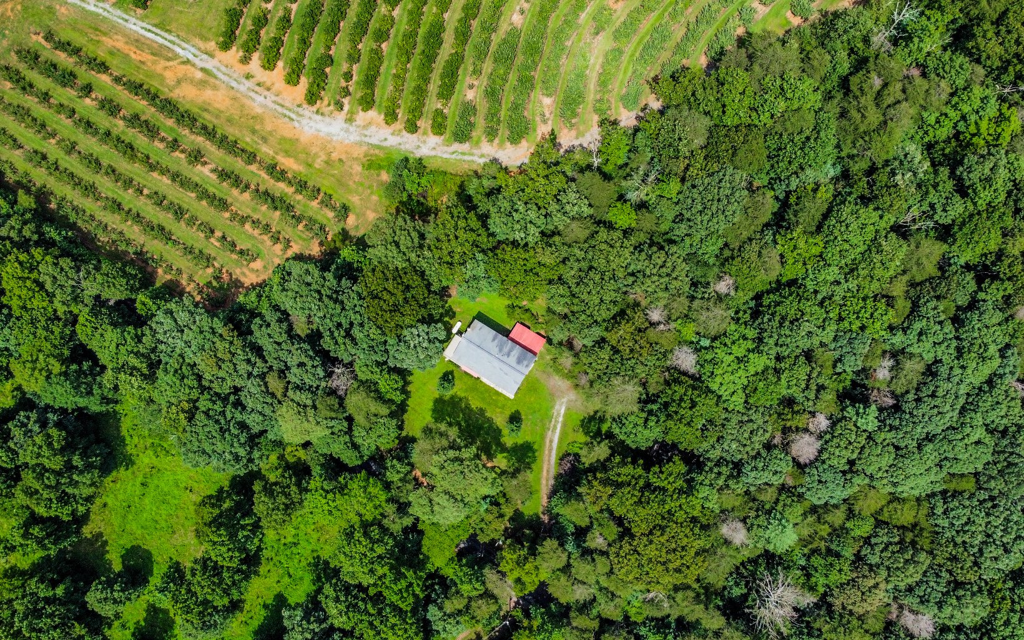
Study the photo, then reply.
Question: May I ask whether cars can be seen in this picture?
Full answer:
No, no car is visible in the view.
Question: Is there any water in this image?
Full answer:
No, no water is visible.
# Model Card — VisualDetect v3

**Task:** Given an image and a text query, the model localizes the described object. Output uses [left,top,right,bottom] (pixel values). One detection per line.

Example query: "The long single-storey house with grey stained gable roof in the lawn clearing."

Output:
[444,320,537,399]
